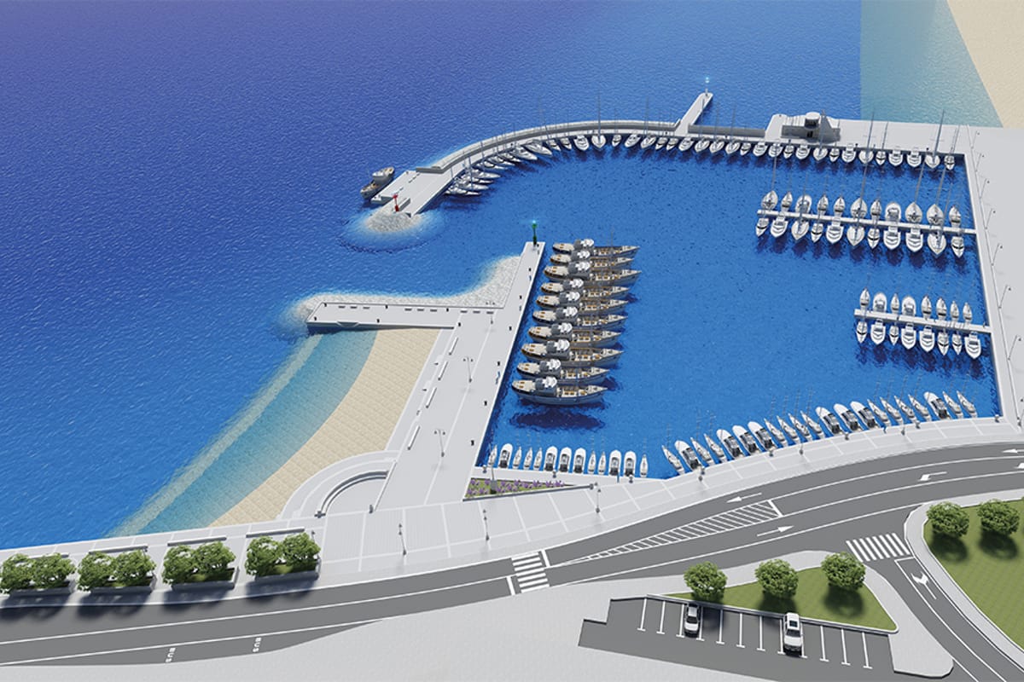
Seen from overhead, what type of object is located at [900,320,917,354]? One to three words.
boat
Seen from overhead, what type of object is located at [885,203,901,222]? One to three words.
boat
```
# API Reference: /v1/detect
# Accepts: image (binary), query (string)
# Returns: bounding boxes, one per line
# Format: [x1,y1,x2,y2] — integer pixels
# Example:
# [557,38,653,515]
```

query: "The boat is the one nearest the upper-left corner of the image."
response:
[361,163,398,202]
